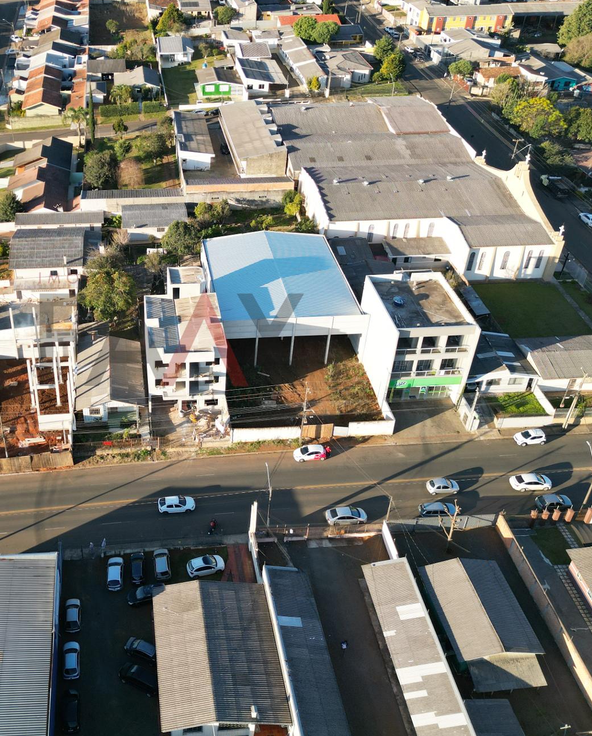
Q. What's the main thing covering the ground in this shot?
buildings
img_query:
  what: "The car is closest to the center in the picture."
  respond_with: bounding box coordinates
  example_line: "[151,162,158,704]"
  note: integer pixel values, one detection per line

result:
[292,444,330,463]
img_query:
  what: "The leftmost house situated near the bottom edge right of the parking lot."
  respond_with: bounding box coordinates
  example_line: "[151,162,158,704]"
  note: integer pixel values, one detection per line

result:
[153,576,292,736]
